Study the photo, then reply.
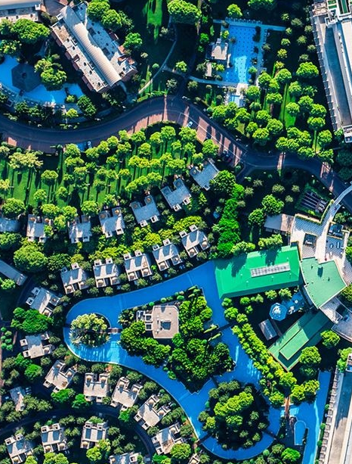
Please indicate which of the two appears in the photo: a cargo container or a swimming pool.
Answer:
swimming pool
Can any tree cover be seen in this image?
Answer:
Yes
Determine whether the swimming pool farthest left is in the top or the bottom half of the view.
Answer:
top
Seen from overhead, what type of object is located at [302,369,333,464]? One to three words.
swimming pool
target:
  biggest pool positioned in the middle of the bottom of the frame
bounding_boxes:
[63,263,281,462]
